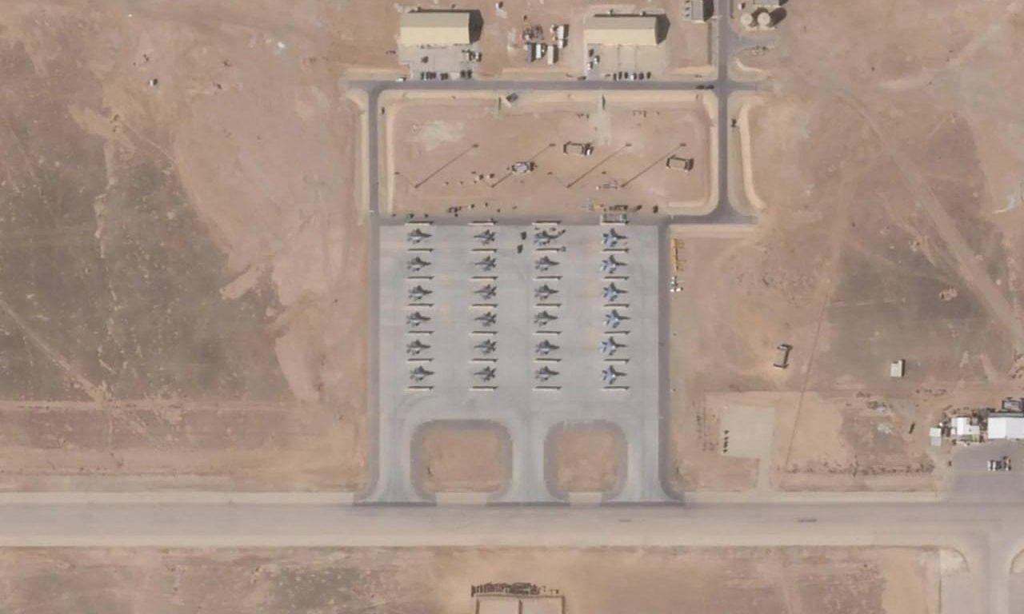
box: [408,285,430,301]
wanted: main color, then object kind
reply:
gray airplane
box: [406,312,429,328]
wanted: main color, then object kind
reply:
gray airplane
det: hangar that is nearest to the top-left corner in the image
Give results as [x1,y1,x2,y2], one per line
[399,12,472,45]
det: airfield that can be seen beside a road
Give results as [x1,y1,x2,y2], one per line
[0,212,1024,614]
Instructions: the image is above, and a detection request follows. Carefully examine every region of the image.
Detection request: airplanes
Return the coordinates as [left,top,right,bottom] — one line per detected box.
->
[407,257,429,272]
[474,367,493,382]
[409,366,431,382]
[533,311,556,327]
[600,368,625,384]
[473,340,493,355]
[535,340,557,356]
[534,366,557,382]
[473,285,493,300]
[600,339,624,356]
[406,312,429,328]
[605,312,629,328]
[535,256,557,272]
[602,285,626,301]
[534,285,556,300]
[406,340,429,356]
[475,313,494,327]
[407,229,429,245]
[474,257,494,272]
[601,230,624,247]
[408,285,430,301]
[473,230,492,245]
[600,258,625,274]
[533,231,556,246]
